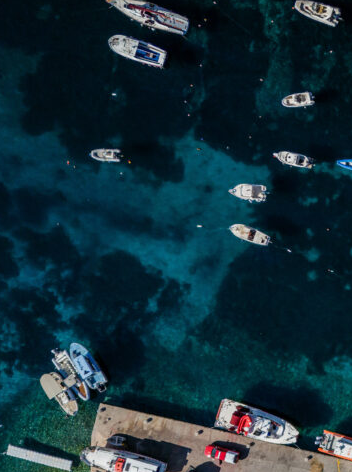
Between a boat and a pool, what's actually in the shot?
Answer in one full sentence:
I can see a boat in this picture.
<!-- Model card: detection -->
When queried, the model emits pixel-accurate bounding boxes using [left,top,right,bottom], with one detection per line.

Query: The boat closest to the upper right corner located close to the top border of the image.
[284,0,342,28]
